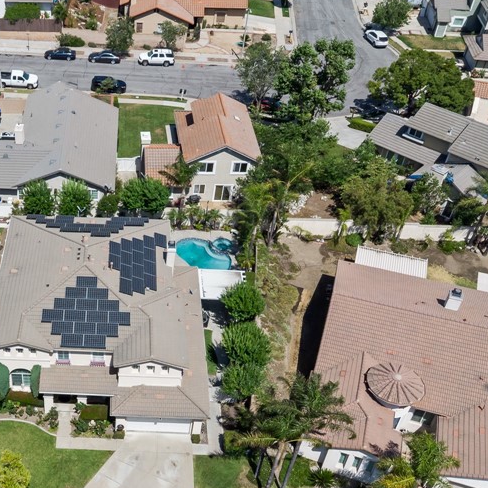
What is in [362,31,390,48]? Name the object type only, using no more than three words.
car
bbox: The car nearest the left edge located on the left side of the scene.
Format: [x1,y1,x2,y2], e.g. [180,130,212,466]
[0,70,39,89]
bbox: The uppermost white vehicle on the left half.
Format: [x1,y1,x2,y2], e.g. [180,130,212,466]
[138,49,175,67]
